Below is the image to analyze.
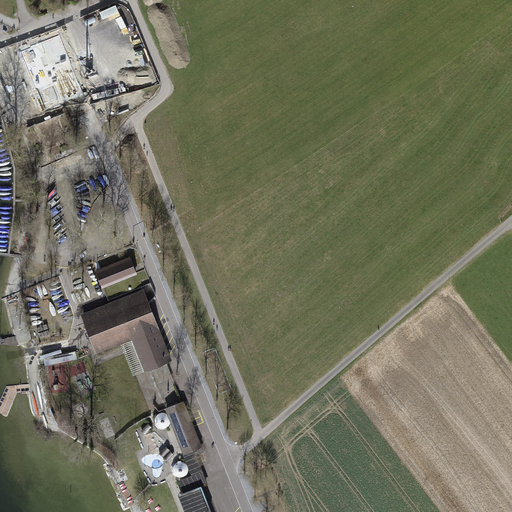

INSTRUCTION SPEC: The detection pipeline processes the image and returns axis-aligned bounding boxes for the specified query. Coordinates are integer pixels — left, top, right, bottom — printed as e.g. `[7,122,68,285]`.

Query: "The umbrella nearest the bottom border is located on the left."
[172,462,188,478]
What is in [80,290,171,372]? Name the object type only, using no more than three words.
building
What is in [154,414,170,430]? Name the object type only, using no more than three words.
umbrella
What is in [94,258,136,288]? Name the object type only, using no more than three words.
shed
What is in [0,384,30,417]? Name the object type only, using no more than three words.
pier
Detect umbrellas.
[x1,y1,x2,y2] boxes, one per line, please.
[172,462,188,478]
[154,414,170,430]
